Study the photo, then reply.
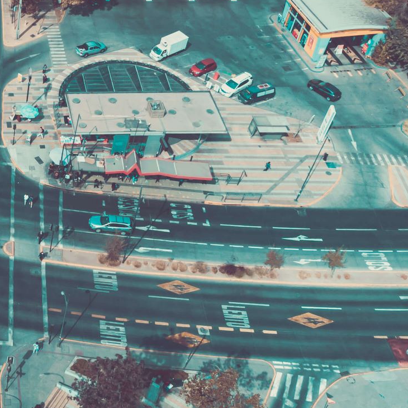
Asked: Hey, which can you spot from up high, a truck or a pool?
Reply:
truck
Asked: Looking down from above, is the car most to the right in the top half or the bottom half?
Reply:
top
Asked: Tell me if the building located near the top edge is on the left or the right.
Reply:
right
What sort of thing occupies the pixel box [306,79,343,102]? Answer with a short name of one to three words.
car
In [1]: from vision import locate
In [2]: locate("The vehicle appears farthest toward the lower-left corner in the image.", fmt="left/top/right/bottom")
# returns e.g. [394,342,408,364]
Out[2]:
[90,212,133,235]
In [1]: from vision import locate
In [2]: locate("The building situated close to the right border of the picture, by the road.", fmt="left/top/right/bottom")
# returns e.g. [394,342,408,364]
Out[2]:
[283,0,392,65]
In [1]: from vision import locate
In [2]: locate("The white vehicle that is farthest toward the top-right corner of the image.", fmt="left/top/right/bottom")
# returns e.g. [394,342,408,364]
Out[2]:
[220,72,253,95]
